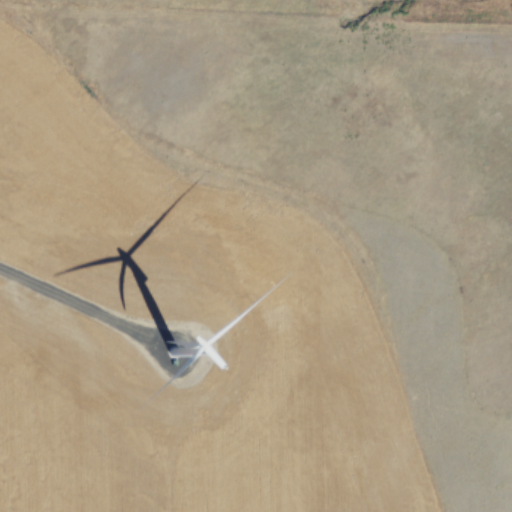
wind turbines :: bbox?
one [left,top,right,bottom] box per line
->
[148,276,290,406]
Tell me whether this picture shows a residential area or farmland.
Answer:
farmland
